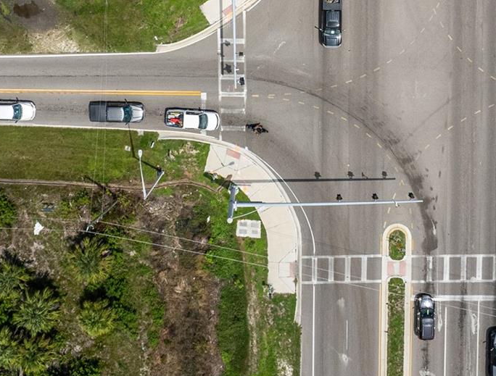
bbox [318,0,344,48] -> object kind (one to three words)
truck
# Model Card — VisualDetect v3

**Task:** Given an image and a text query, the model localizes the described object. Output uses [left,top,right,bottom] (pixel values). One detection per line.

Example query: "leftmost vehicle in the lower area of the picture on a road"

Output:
[413,291,438,341]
